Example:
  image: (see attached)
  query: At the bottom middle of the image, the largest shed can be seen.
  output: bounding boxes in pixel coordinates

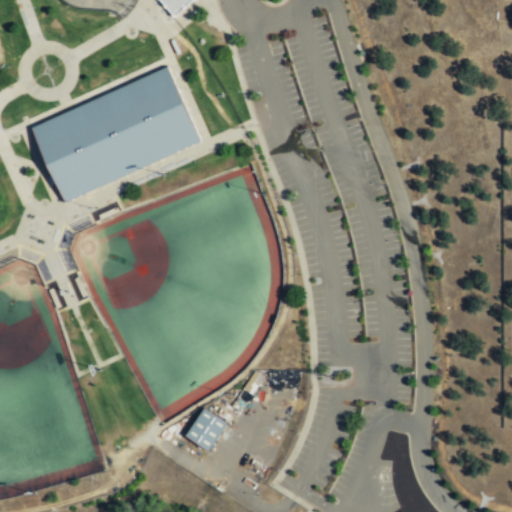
[186,408,226,451]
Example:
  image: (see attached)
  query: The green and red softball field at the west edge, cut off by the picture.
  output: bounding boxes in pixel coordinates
[0,258,107,500]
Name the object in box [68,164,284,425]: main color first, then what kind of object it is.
green baseball field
